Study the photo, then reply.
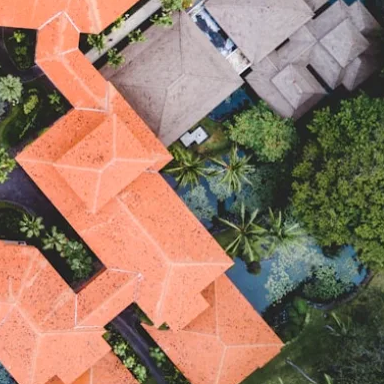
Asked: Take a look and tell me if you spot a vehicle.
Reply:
No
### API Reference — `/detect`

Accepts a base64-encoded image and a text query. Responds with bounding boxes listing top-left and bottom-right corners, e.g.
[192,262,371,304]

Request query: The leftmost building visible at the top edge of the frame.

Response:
[100,9,244,144]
